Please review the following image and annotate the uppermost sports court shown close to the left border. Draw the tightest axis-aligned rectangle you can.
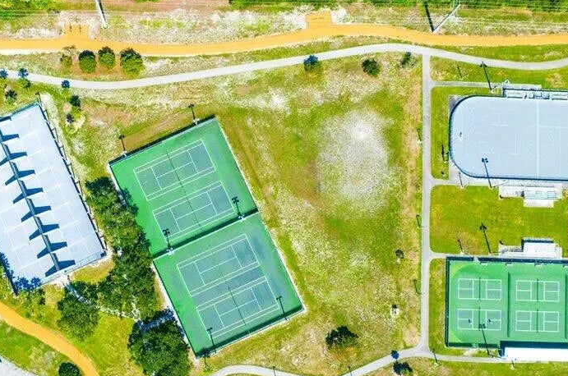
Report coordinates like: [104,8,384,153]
[0,105,46,141]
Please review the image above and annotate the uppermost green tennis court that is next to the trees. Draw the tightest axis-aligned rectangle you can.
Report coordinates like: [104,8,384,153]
[110,118,237,211]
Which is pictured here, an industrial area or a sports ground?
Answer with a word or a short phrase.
sports ground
